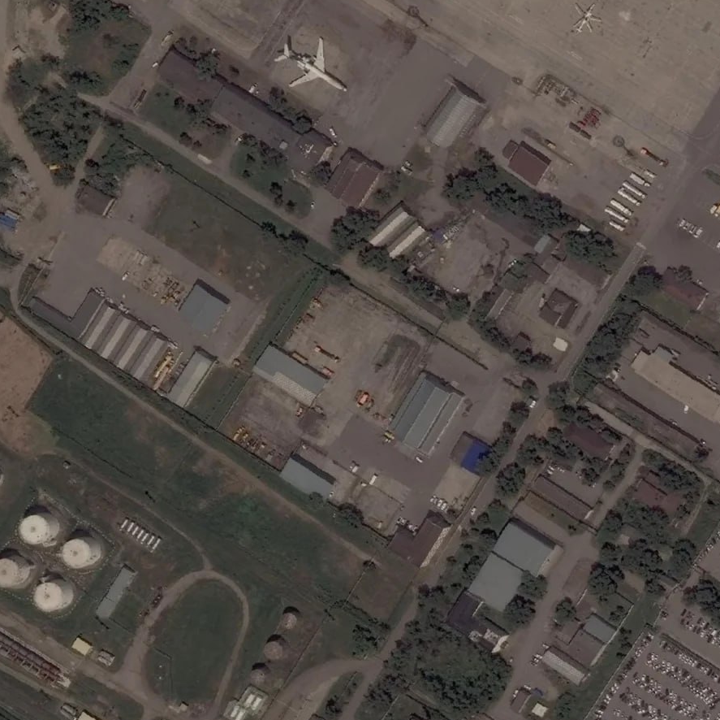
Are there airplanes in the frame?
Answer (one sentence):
Yes, the frame does contain an airplane.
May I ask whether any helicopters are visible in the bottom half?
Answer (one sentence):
No, no helicopter can be made out in the bottom half.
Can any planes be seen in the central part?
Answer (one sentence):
No, no plane can be made out in the central part.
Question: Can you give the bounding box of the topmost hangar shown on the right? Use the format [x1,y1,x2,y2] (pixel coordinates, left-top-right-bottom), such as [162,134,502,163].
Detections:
[426,84,488,148]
